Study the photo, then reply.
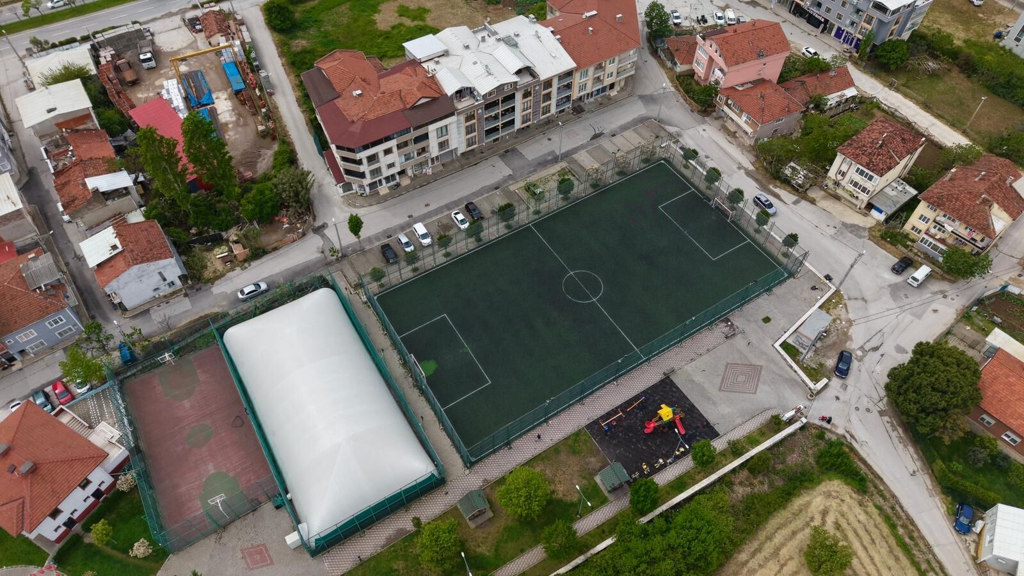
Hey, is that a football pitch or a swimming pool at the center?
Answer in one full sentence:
You can see a football pitch at the center.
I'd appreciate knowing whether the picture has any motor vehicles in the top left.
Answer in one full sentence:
Yes, I can see a motor vehicle in the top left.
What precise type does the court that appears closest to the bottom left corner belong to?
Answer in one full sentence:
Looking closely, the court that appears closest to the bottom left corner is a basketball court.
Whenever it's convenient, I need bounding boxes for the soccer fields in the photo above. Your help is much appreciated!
[368,156,794,465]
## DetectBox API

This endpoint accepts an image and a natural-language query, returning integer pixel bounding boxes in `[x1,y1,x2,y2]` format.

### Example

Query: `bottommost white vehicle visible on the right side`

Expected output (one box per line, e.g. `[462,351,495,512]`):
[907,262,933,287]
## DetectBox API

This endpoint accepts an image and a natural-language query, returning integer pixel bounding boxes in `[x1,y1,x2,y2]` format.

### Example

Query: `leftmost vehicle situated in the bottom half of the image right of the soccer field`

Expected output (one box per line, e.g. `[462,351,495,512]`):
[834,349,852,378]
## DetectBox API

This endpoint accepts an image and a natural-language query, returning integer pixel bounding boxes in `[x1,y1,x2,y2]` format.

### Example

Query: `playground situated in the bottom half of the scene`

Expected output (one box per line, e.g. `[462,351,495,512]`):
[587,378,719,488]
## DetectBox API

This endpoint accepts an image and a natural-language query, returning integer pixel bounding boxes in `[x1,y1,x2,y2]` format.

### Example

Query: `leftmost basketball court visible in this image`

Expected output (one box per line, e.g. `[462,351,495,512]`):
[126,350,278,547]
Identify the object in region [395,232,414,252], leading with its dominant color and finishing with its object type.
white car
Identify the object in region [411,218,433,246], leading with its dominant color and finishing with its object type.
white vehicle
